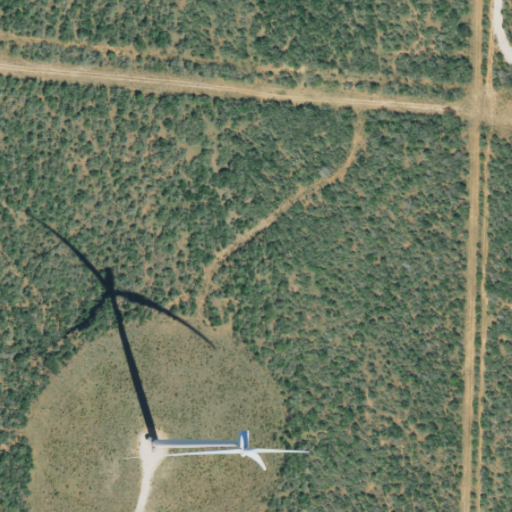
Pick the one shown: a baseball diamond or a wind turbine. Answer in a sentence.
This aerial view contains a wind turbine.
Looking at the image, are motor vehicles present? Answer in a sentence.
No, I find no motor vehicle anywhere in the image.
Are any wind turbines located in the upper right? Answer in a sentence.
No, there's no wind turbine to be seen in the upper right.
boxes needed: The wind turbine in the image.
[122,431,309,474]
